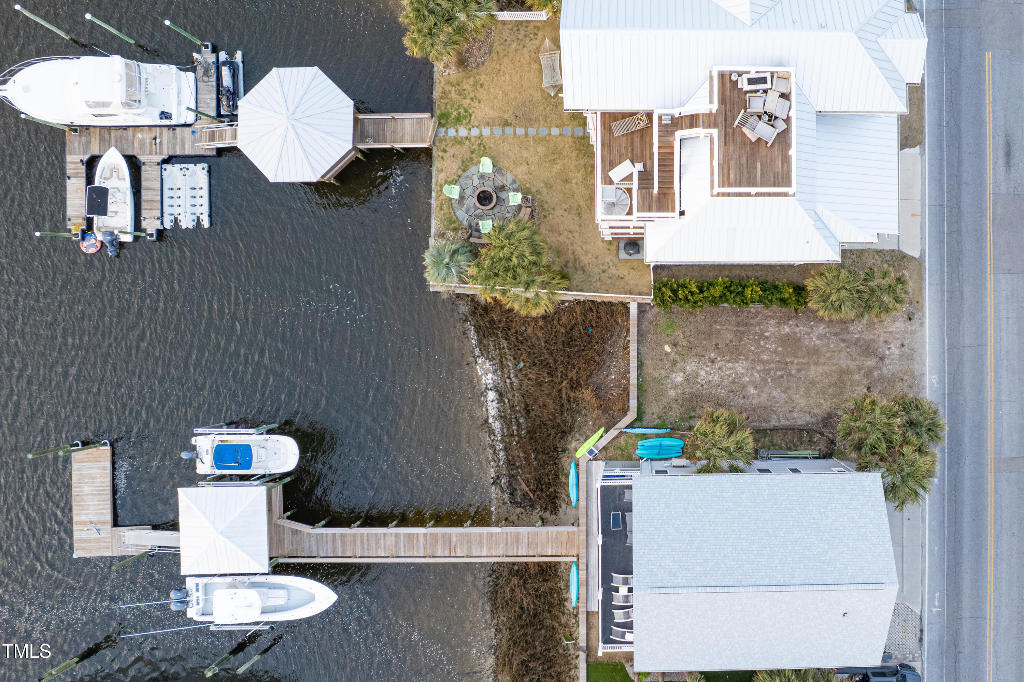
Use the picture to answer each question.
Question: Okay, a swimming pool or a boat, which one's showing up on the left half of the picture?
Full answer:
What appears on the left half of the picture is a boat.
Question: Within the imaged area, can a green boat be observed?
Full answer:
Yes, you can see a green boat in this photo.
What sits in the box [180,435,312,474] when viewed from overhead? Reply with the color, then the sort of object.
white boat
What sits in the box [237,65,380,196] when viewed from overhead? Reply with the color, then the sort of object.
white gazebo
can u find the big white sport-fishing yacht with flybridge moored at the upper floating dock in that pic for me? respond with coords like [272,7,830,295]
[0,38,195,127]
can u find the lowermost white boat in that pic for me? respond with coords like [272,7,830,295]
[120,574,341,637]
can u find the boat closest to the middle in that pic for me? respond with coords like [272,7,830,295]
[577,429,604,458]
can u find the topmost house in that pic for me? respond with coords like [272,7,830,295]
[557,0,928,269]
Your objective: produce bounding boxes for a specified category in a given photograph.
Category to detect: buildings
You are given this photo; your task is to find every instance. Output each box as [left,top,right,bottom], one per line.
[557,0,928,269]
[177,474,299,576]
[598,458,899,672]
